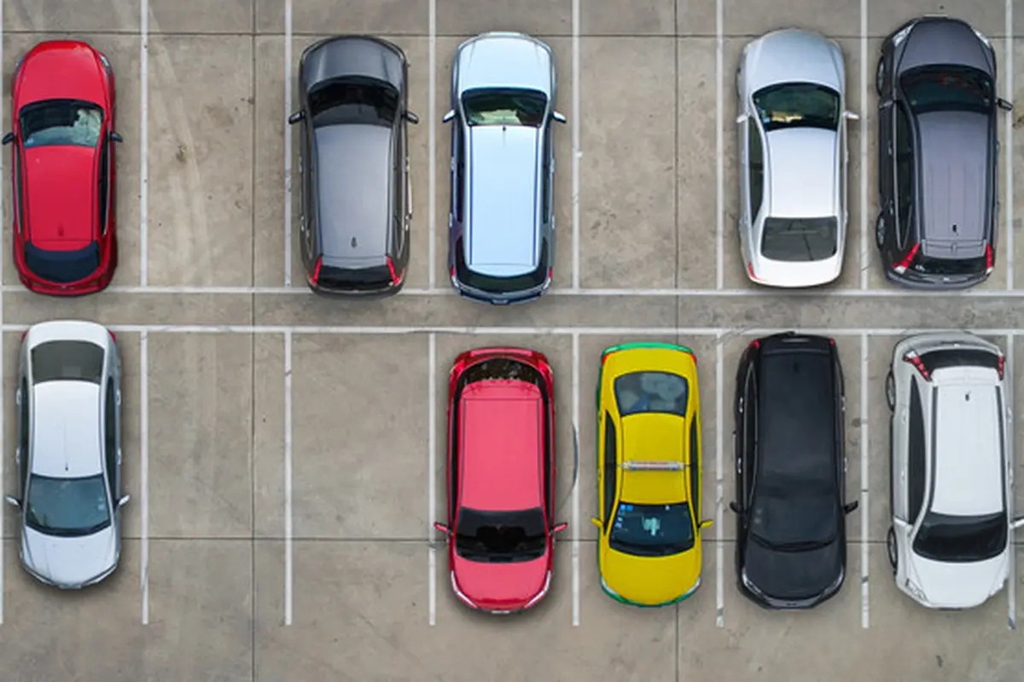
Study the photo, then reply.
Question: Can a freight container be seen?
No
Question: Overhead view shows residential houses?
No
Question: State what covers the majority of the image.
paved ground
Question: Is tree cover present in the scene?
No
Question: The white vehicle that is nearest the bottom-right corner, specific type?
automobile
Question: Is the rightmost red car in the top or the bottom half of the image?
bottom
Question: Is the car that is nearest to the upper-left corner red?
Yes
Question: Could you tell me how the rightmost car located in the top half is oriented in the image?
vertically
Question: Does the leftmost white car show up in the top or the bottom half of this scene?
bottom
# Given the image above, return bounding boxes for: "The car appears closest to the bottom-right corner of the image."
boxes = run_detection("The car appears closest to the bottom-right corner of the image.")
[883,332,1019,609]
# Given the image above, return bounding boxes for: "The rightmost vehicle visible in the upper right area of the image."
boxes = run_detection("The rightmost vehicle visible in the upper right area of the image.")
[871,16,1009,289]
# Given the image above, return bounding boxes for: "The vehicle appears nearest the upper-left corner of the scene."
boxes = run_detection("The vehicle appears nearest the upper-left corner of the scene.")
[0,41,124,296]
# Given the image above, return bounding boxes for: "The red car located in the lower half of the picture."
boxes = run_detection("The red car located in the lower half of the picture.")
[437,347,568,615]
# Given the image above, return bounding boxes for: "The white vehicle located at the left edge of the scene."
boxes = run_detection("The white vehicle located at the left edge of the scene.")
[1,321,131,589]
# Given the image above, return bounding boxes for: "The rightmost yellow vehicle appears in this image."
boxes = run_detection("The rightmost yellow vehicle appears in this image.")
[588,342,716,606]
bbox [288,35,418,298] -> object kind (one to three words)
car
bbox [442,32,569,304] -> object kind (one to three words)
car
